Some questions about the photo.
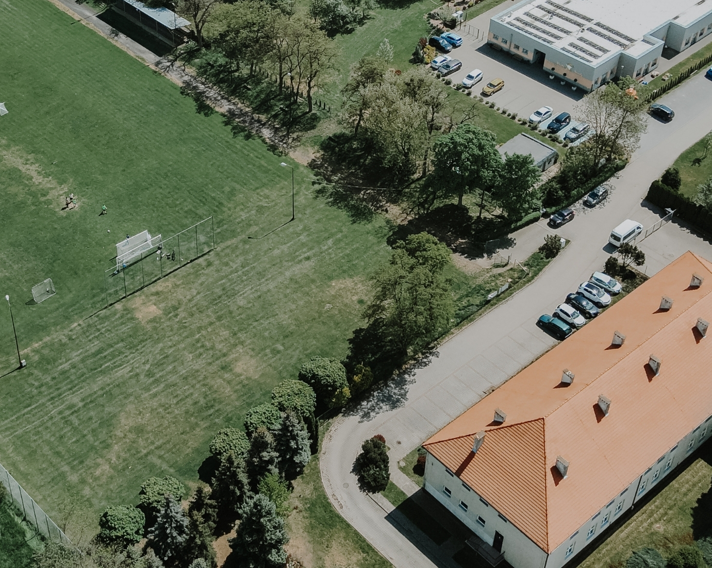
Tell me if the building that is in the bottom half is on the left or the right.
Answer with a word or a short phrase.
right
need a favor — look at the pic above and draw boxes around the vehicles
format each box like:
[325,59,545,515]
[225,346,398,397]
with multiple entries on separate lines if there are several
[551,302,587,327]
[427,33,455,52]
[480,76,507,97]
[536,315,574,338]
[564,293,601,318]
[546,110,573,132]
[441,31,466,48]
[460,68,485,87]
[427,54,455,69]
[436,57,464,77]
[608,217,644,243]
[563,122,590,142]
[646,103,679,122]
[546,204,580,227]
[581,183,612,206]
[587,270,625,295]
[577,279,613,307]
[527,106,556,125]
